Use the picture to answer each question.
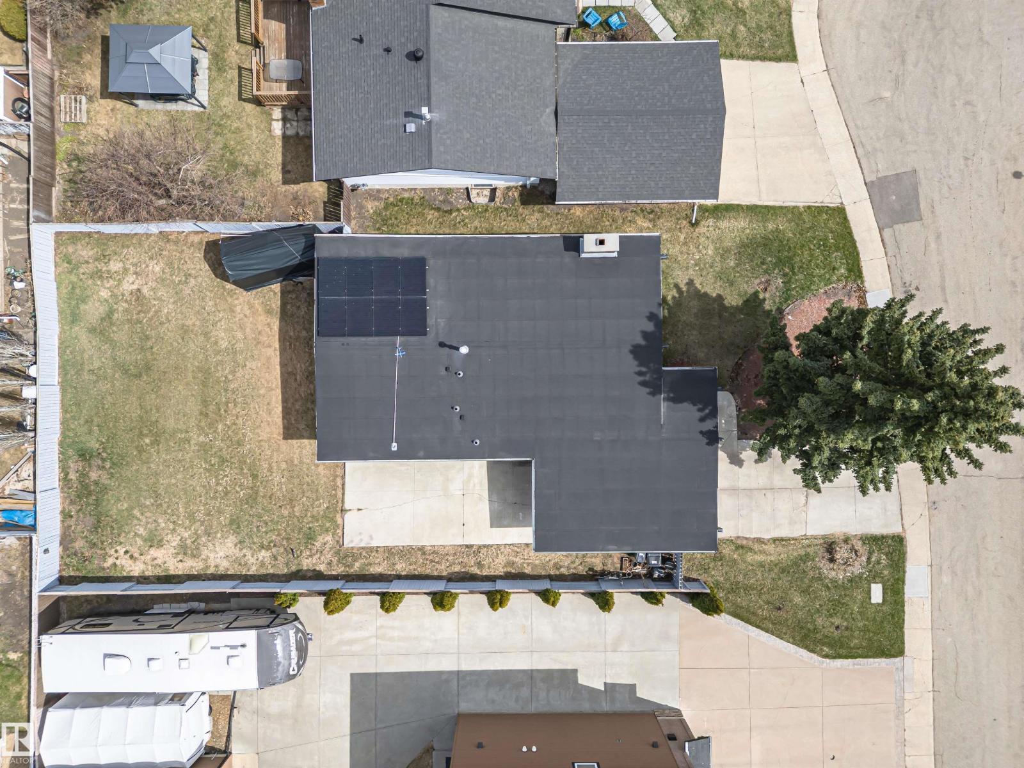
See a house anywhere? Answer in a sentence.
Yes, the image includes a house.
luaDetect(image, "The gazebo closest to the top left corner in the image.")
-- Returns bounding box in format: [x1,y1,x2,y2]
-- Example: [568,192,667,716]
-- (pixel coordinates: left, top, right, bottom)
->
[108,23,208,110]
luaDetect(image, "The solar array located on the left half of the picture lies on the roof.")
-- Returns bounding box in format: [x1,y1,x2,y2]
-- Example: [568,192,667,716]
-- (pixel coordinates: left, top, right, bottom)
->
[319,258,431,336]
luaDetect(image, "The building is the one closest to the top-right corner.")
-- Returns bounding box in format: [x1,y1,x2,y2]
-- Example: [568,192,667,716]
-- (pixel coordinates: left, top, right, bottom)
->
[556,39,725,223]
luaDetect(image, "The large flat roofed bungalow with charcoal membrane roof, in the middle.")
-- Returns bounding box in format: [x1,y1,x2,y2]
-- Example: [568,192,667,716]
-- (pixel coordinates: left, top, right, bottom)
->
[316,232,721,553]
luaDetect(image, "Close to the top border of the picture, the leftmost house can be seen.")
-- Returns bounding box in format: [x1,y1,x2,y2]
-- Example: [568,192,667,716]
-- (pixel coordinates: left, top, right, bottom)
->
[311,0,578,189]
